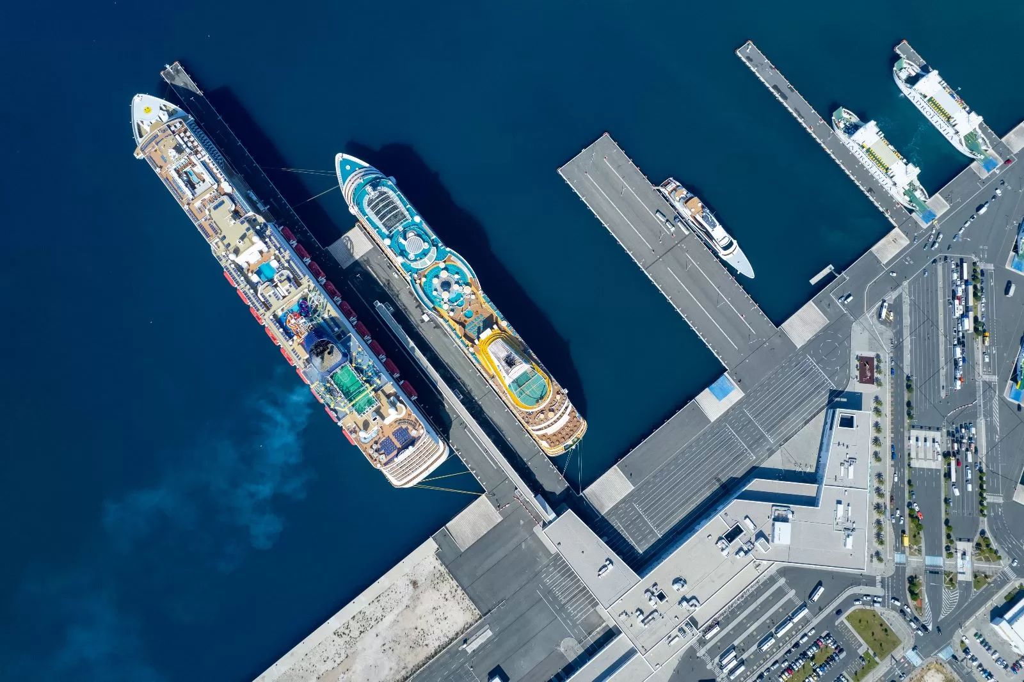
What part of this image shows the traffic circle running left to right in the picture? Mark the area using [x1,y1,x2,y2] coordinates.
[907,656,964,682]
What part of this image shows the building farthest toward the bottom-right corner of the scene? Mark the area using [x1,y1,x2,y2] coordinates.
[985,587,1024,663]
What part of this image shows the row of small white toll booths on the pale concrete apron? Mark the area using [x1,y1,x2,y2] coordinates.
[907,431,938,468]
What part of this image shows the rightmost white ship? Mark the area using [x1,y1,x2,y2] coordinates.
[891,55,998,173]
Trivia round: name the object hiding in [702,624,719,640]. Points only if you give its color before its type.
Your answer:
white vehicle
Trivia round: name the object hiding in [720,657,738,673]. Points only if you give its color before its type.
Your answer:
white vehicle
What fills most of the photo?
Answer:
water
